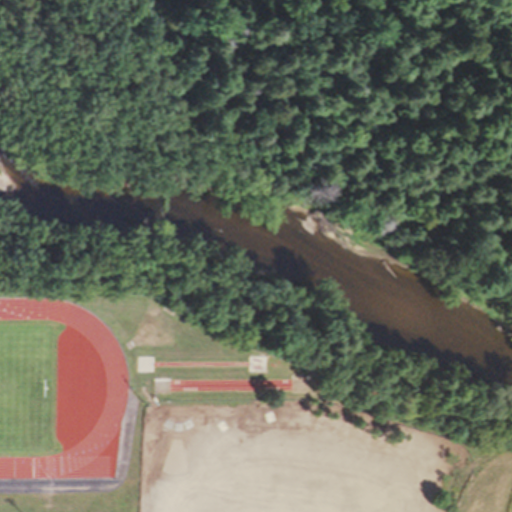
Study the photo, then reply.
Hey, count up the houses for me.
none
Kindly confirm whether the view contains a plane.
No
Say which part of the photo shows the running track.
bottom left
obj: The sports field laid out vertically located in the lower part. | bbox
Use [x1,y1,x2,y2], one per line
[0,320,66,457]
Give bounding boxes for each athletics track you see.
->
[0,298,129,480]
